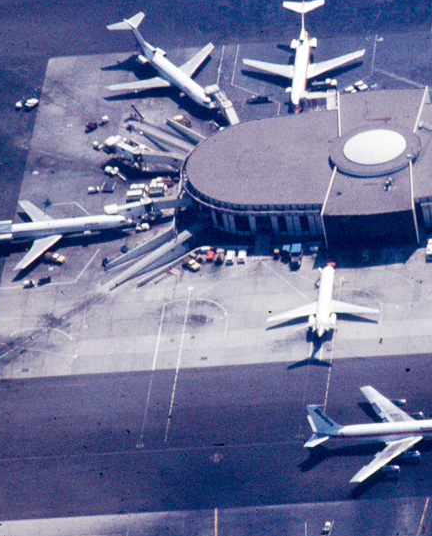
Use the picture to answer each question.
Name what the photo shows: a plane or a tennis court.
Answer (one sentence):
It is a plane that can be seen here.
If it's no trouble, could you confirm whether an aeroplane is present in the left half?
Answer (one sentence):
Yes, in the left half there is an aeroplane.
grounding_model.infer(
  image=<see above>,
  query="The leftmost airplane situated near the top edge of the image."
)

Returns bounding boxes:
[105,14,214,108]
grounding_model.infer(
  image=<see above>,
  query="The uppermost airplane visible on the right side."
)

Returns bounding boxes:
[242,0,366,111]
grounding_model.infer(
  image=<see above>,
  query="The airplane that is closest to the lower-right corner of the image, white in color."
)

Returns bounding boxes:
[302,385,432,485]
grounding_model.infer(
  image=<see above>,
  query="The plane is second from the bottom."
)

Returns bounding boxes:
[268,263,381,338]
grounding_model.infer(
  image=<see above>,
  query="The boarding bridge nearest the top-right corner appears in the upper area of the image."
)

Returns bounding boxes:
[296,91,337,112]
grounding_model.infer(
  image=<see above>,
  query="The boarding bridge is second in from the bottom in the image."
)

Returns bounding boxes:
[102,135,184,177]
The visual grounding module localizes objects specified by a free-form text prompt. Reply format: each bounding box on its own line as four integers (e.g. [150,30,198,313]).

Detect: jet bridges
[100,193,186,226]
[205,84,240,126]
[296,91,337,112]
[102,135,184,177]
